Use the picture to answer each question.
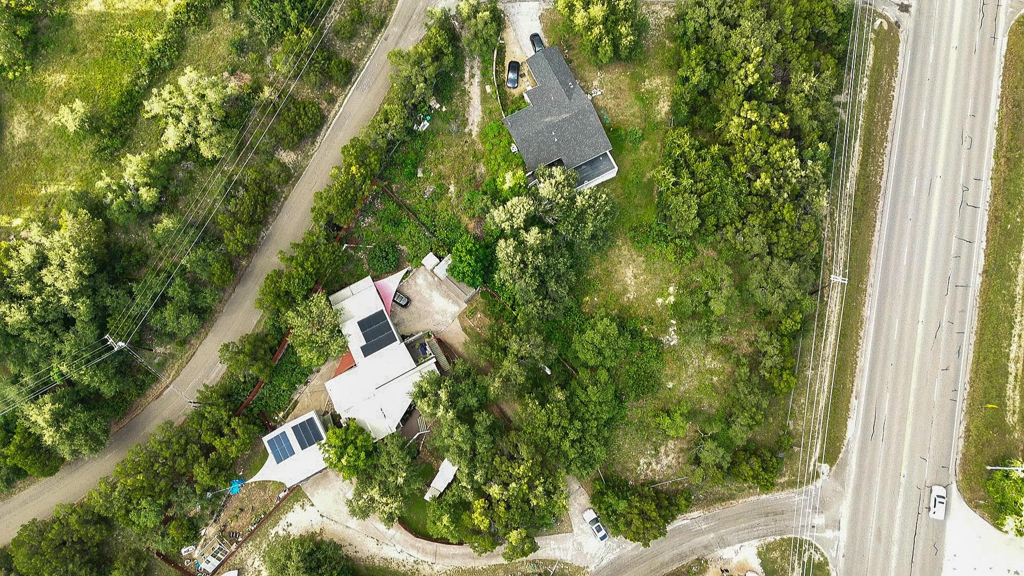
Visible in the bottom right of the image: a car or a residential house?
car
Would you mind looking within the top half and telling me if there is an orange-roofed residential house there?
No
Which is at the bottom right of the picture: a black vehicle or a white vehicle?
white vehicle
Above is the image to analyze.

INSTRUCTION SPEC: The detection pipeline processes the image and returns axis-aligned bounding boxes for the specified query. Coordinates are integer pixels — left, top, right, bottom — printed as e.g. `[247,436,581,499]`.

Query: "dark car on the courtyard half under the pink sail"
[392,289,414,311]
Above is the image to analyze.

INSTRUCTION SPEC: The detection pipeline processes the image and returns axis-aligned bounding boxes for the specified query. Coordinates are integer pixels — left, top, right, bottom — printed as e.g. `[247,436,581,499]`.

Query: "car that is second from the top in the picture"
[505,60,520,89]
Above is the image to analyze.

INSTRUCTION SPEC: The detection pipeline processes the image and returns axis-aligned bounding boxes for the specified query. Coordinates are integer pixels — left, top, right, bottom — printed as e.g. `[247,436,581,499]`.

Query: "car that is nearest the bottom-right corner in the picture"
[927,486,949,519]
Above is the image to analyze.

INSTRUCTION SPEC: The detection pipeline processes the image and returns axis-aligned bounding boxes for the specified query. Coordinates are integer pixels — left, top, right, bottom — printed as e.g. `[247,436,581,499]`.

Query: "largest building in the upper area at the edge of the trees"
[502,46,618,190]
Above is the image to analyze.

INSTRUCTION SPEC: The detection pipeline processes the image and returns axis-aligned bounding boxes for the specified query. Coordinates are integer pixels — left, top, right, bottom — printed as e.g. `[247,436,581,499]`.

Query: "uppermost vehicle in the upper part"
[530,31,548,55]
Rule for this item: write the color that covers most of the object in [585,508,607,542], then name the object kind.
white car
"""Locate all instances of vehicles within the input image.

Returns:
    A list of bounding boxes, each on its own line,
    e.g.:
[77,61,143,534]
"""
[505,60,520,89]
[530,31,548,55]
[392,289,414,311]
[927,486,949,519]
[585,508,607,542]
